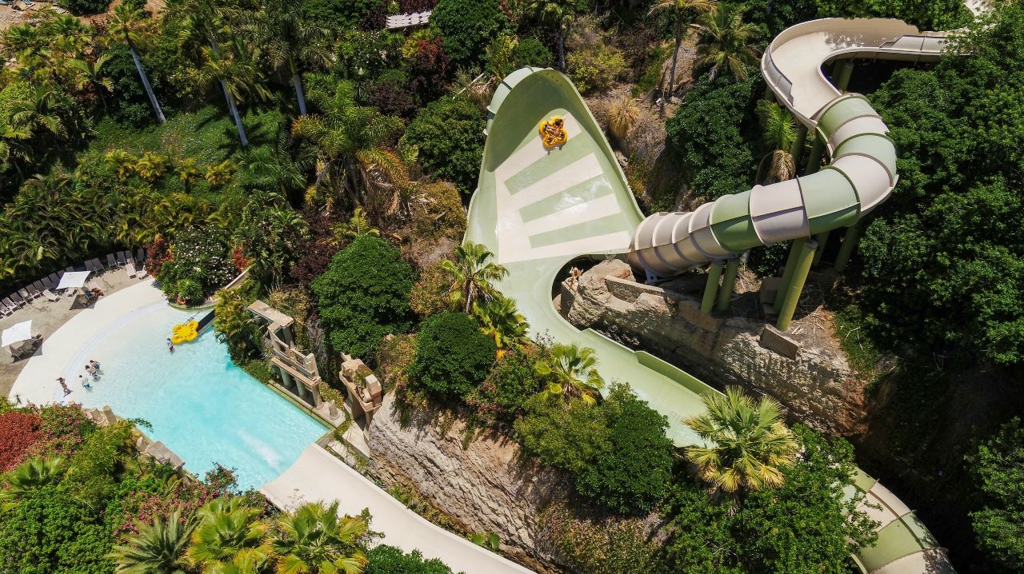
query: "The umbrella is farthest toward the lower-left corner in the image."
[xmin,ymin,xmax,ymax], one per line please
[2,320,36,358]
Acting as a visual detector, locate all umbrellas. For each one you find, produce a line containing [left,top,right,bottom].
[56,271,90,304]
[2,320,36,358]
